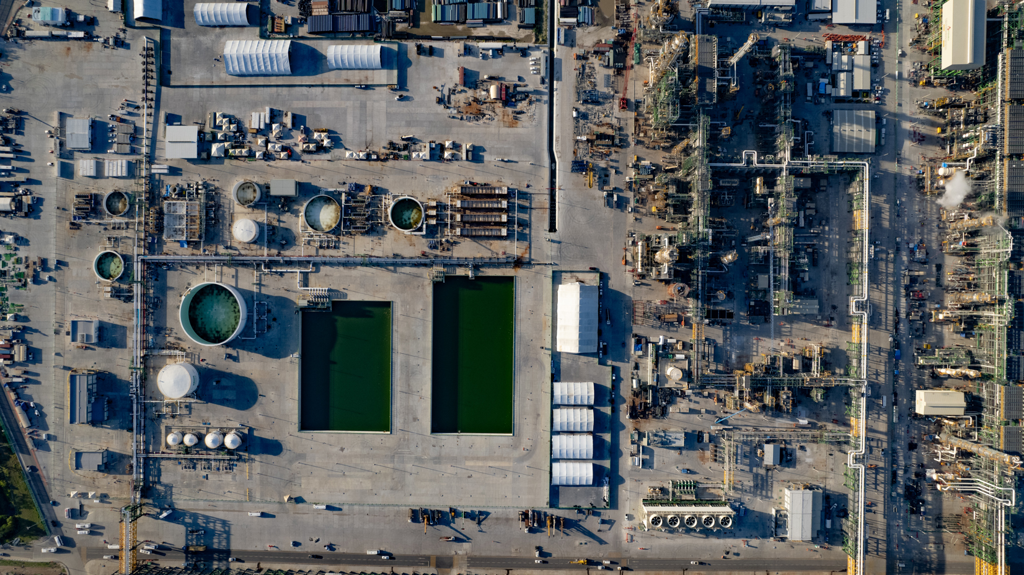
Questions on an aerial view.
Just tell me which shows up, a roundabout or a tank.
tank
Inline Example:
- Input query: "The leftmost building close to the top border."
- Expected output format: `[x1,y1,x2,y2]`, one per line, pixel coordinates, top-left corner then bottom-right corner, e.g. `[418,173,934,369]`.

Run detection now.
[32,7,70,27]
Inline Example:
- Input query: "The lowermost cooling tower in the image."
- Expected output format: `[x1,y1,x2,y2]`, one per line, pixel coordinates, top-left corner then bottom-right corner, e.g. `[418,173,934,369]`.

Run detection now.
[641,502,737,530]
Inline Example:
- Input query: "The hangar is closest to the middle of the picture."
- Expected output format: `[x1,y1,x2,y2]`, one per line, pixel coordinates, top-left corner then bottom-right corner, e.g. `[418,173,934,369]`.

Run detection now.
[553,382,595,405]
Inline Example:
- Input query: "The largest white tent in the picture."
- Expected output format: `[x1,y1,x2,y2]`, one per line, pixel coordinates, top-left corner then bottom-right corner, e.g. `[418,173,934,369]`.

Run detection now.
[557,283,598,356]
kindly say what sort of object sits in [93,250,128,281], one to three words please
storage tank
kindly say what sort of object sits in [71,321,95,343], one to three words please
building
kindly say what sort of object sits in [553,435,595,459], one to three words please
hangar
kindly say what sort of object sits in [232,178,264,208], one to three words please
storage tank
